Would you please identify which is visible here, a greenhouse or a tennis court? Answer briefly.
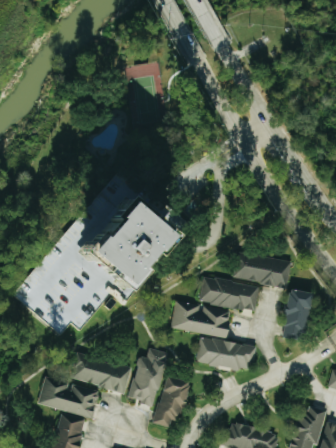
tennis court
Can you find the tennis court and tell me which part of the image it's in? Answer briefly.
top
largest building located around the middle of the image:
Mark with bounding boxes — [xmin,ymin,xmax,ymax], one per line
[90,194,182,290]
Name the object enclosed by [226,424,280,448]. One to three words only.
house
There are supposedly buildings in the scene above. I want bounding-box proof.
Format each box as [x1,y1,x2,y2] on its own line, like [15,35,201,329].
[152,376,190,428]
[226,424,280,448]
[200,276,260,313]
[72,349,132,394]
[238,257,292,292]
[172,299,231,340]
[292,406,328,448]
[90,194,182,290]
[38,377,100,420]
[282,289,314,336]
[56,416,86,448]
[197,337,256,374]
[129,346,167,408]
